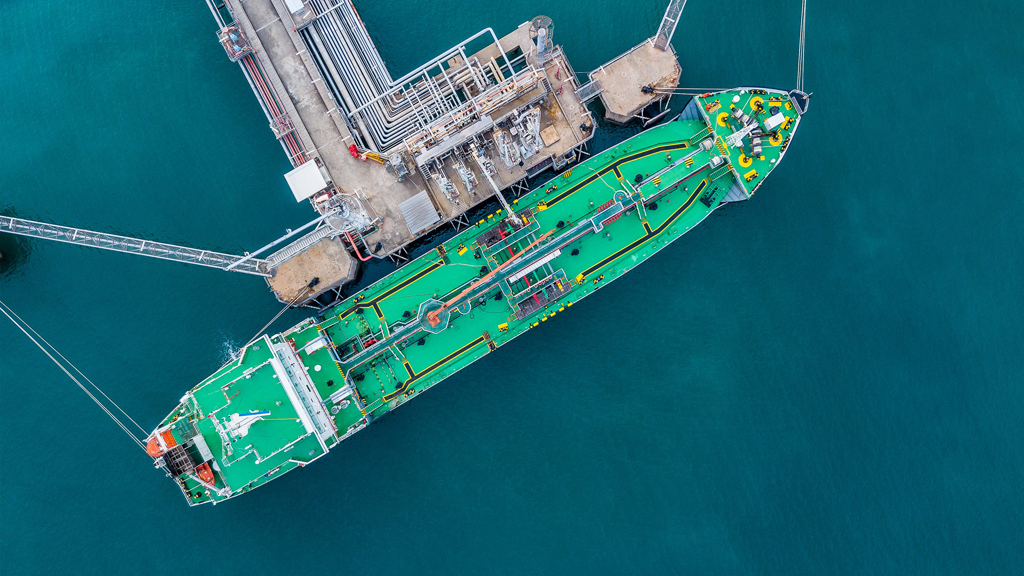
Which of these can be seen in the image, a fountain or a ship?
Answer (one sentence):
There is a ship in the scene.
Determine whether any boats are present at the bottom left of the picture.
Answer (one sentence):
Yes, a boat appears at the bottom left of the picture.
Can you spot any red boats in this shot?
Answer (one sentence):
Yes, a red boat appears in the view.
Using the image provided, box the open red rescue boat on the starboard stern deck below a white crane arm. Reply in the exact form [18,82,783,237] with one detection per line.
[190,460,216,488]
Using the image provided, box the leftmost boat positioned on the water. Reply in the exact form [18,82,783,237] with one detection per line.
[141,429,179,457]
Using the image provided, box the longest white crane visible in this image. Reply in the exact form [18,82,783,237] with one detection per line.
[224,190,371,271]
